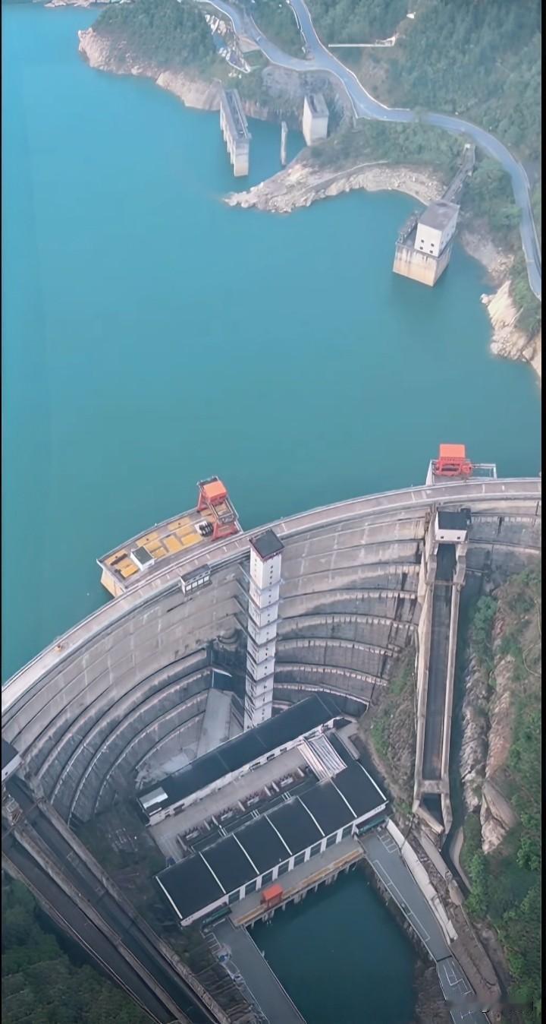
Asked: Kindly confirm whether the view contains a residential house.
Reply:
Yes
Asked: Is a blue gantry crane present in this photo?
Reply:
No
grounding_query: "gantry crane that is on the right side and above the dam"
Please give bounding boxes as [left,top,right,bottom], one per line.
[432,444,474,480]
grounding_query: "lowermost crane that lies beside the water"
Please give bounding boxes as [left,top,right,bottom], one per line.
[195,474,242,546]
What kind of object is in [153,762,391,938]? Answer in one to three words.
building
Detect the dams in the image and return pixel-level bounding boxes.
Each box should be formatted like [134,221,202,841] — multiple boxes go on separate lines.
[0,477,546,859]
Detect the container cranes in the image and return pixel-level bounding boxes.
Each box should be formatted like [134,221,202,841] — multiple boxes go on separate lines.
[195,474,242,546]
[432,444,474,480]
